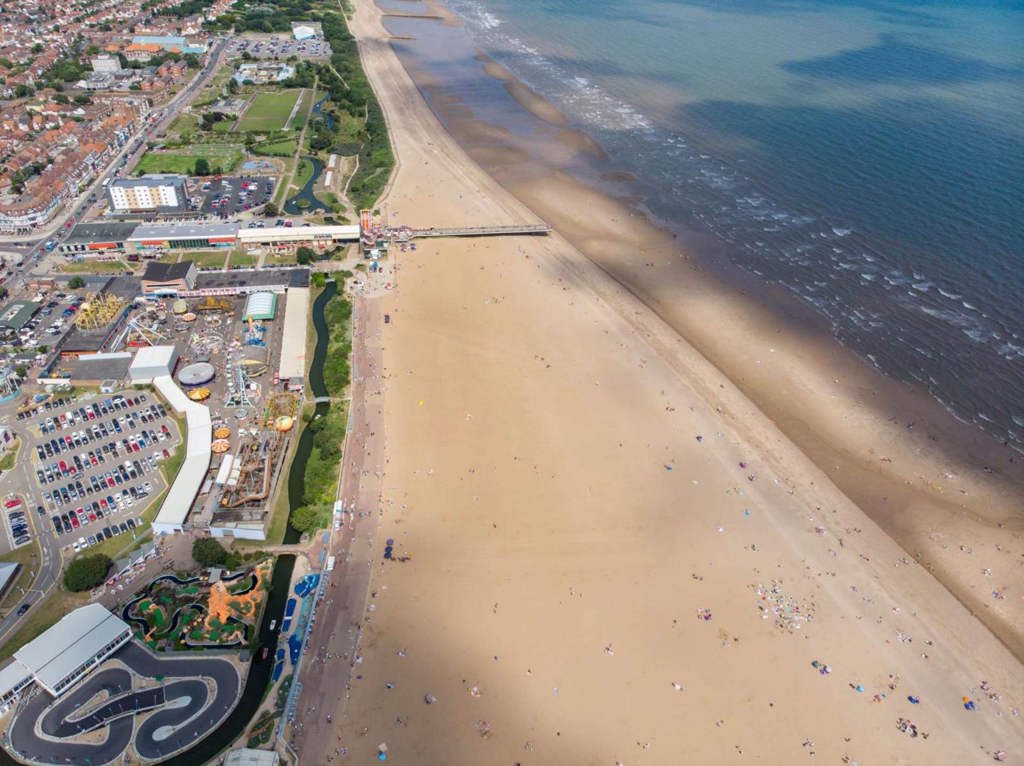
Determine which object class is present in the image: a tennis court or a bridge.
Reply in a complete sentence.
It is a bridge that can be seen here.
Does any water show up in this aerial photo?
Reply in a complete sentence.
Yes, there's water in this view.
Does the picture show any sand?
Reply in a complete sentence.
Yes, some sand is visible.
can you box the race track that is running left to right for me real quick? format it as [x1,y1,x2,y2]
[10,643,239,766]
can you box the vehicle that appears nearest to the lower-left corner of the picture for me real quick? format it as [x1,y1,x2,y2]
[15,601,32,616]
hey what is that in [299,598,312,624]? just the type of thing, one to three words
swimming pool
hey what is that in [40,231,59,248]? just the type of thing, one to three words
vehicle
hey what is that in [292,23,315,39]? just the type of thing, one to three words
tent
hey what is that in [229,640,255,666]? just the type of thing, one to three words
shed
